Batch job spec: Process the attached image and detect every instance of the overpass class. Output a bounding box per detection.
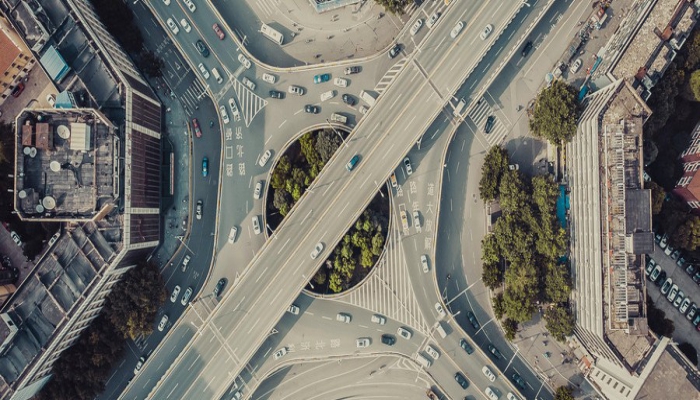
[139,0,530,400]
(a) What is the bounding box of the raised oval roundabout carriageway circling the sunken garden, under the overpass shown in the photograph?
[115,0,557,400]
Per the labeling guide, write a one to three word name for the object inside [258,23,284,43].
vehicle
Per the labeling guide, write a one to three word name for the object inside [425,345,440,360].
car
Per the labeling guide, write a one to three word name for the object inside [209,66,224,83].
vehicle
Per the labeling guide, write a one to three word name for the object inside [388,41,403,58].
car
